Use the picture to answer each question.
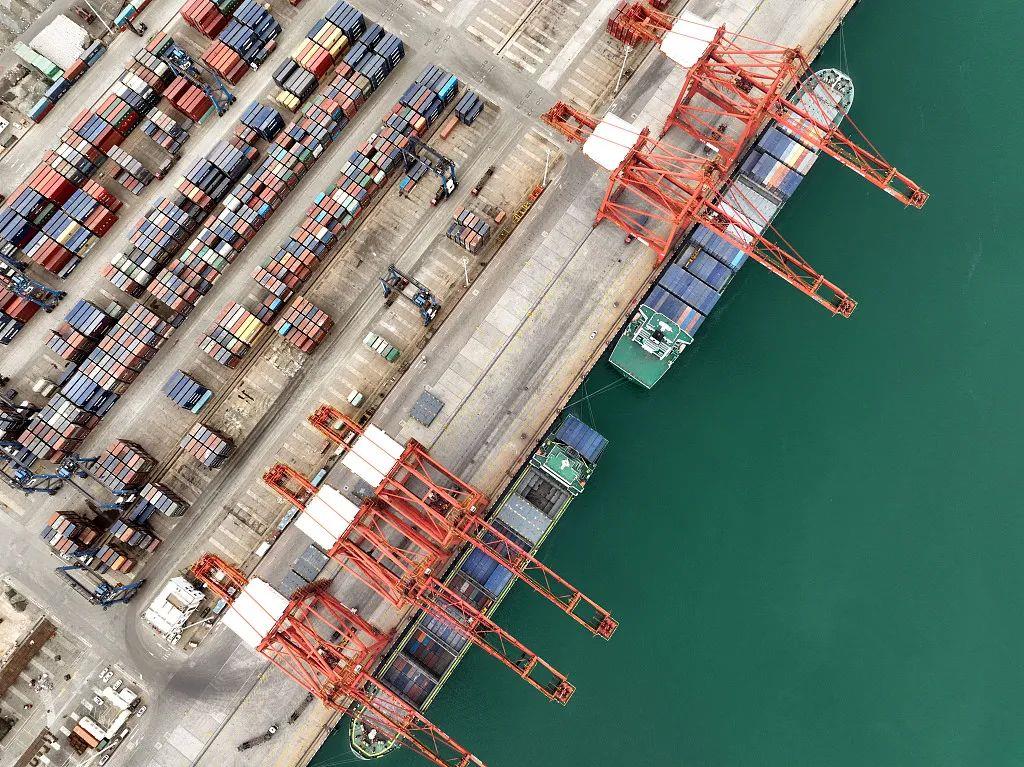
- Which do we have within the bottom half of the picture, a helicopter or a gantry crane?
gantry crane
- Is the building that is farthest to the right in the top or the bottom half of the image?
bottom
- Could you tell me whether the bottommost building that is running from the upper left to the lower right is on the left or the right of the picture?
left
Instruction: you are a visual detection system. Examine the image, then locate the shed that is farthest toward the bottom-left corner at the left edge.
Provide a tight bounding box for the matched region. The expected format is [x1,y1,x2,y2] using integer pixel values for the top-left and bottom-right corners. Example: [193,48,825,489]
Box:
[14,729,56,767]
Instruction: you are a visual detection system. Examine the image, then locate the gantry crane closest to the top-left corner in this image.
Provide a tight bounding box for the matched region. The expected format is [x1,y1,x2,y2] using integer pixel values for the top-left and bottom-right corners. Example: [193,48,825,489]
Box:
[163,47,234,115]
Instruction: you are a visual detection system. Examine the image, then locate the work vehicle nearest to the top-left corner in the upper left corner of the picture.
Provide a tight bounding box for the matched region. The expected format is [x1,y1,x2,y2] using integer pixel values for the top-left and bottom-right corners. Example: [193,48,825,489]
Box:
[67,1,94,22]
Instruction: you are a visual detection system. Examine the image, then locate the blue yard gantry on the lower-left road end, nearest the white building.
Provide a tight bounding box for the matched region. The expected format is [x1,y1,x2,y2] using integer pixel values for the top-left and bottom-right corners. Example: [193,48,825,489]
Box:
[57,550,141,610]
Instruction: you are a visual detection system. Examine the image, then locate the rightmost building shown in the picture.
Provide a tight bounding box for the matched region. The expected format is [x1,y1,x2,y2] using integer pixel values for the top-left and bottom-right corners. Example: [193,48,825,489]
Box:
[138,578,211,641]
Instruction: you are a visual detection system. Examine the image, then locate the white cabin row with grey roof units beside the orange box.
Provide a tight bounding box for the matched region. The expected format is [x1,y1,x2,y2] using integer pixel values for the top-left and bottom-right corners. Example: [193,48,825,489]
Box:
[77,717,106,743]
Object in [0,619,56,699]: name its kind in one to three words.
shed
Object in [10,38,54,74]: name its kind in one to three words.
shed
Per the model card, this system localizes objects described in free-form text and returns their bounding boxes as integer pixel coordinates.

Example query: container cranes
[163,47,234,115]
[619,0,936,207]
[0,442,58,496]
[541,93,862,317]
[190,552,484,767]
[262,459,577,709]
[378,266,441,327]
[57,550,141,610]
[399,136,459,200]
[306,401,621,643]
[0,252,66,313]
[56,456,138,510]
